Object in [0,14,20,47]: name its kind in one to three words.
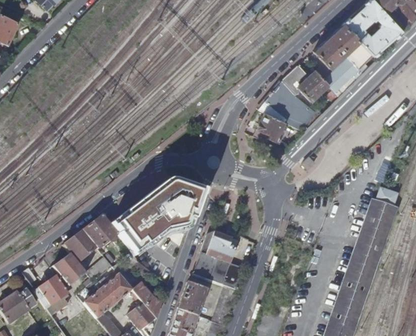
house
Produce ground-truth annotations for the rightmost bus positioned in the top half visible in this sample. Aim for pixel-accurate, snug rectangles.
[384,102,409,127]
